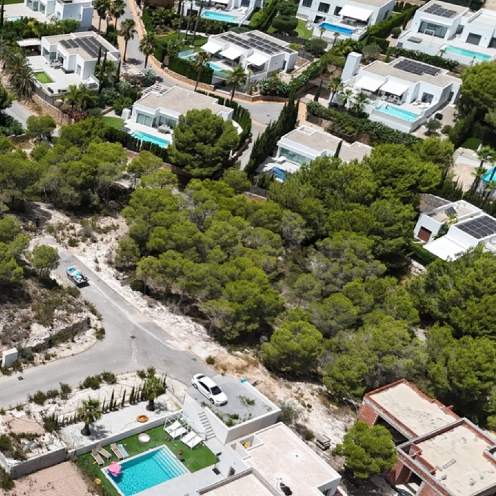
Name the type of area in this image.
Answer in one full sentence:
The picture captures a residential area.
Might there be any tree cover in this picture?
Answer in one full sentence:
Yes, tree cover can be seen from above here.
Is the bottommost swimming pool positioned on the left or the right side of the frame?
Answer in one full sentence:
It is on the left.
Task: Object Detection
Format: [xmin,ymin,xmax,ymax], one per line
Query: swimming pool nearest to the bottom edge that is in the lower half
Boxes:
[102,443,190,496]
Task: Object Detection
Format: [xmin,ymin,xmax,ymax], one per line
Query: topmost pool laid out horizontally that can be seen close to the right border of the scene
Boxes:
[440,44,494,58]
